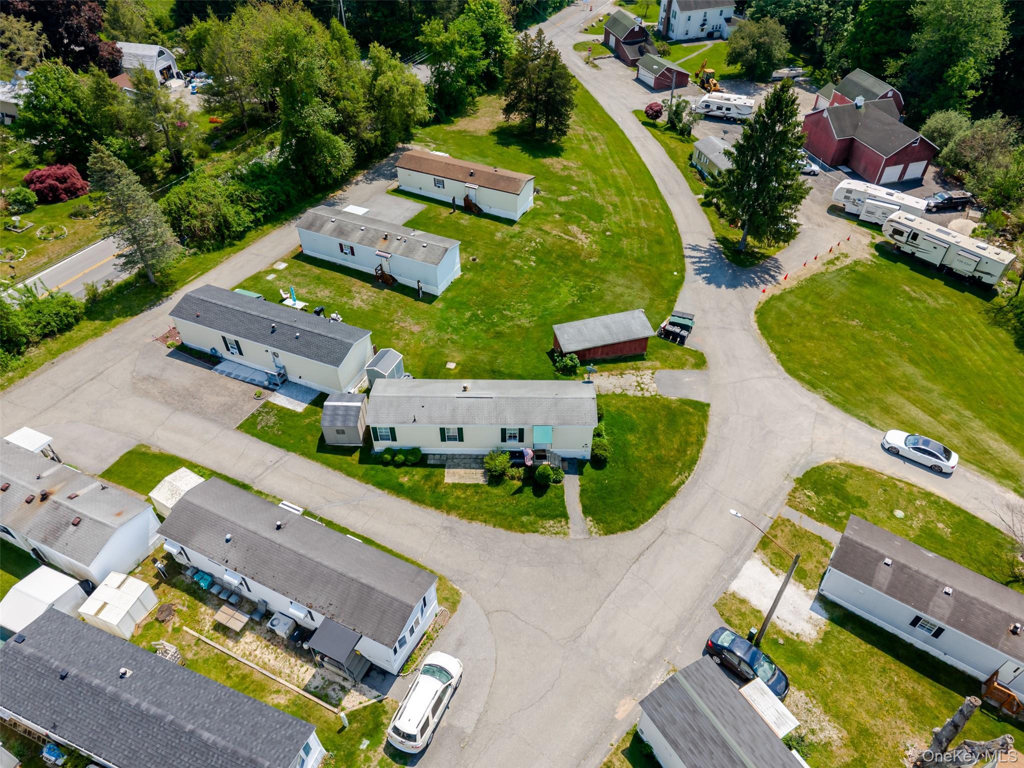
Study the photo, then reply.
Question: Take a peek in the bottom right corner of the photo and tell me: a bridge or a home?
home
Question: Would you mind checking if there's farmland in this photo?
No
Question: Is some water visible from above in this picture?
No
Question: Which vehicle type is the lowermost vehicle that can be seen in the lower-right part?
automobile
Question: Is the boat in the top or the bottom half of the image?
top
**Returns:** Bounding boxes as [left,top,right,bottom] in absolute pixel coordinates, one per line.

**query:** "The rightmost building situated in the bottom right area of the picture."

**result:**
[813,514,1024,698]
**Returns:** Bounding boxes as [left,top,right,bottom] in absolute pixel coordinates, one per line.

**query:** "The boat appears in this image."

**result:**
[771,60,812,80]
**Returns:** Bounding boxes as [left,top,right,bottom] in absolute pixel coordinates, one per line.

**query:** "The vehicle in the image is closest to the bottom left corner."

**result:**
[388,656,462,756]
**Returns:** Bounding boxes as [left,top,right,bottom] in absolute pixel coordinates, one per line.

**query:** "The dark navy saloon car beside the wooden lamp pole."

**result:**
[709,630,796,708]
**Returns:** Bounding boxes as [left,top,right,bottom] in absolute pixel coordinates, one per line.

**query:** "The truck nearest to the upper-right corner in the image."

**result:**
[931,190,975,214]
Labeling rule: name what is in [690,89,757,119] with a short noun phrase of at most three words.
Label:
trailer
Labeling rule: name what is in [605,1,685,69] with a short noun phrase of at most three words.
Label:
barn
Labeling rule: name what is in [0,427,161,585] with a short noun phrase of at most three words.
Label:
house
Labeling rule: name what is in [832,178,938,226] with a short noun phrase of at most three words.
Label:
trailer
